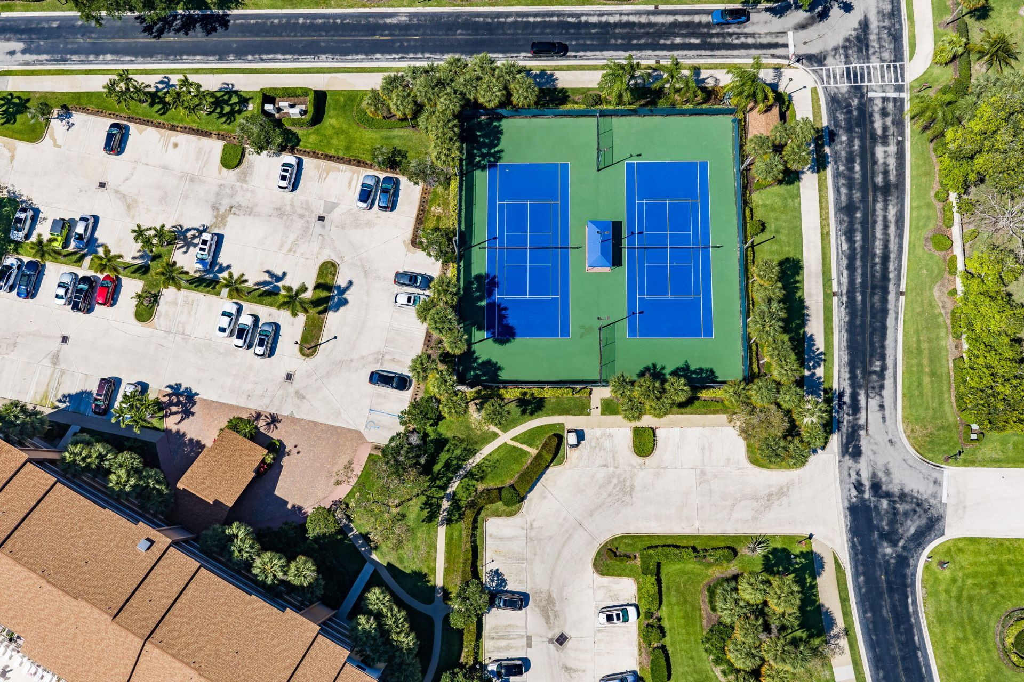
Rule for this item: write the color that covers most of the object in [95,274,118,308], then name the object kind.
red car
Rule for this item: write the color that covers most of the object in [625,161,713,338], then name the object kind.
blue tennis court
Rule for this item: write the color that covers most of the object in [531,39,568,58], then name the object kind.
black car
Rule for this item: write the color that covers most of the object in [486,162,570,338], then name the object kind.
blue tennis court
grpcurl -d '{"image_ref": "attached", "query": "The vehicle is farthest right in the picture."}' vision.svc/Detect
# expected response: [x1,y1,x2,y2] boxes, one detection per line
[711,7,750,26]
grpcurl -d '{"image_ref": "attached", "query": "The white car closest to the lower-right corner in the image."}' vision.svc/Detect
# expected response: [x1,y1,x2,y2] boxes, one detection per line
[598,604,639,624]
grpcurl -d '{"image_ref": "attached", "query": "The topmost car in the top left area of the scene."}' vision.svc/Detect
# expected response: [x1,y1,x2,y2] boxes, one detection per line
[103,123,125,155]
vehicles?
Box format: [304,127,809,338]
[11,207,34,241]
[234,314,257,350]
[393,292,426,311]
[377,177,399,212]
[531,39,568,58]
[49,218,72,250]
[253,322,278,359]
[103,123,125,155]
[490,592,525,611]
[0,257,24,293]
[217,301,240,338]
[598,604,639,624]
[711,7,750,26]
[194,232,218,271]
[567,429,579,449]
[95,274,118,308]
[277,155,298,192]
[599,671,640,682]
[91,378,116,415]
[72,214,95,249]
[55,272,78,306]
[71,276,97,314]
[487,661,525,681]
[16,259,42,299]
[392,270,431,292]
[356,175,378,210]
[368,370,411,391]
